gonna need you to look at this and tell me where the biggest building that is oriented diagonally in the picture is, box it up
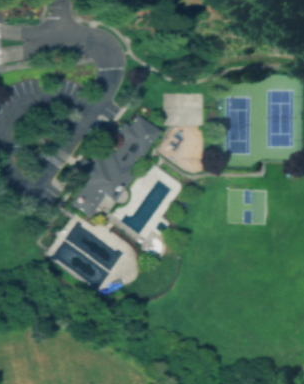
[67,116,167,219]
